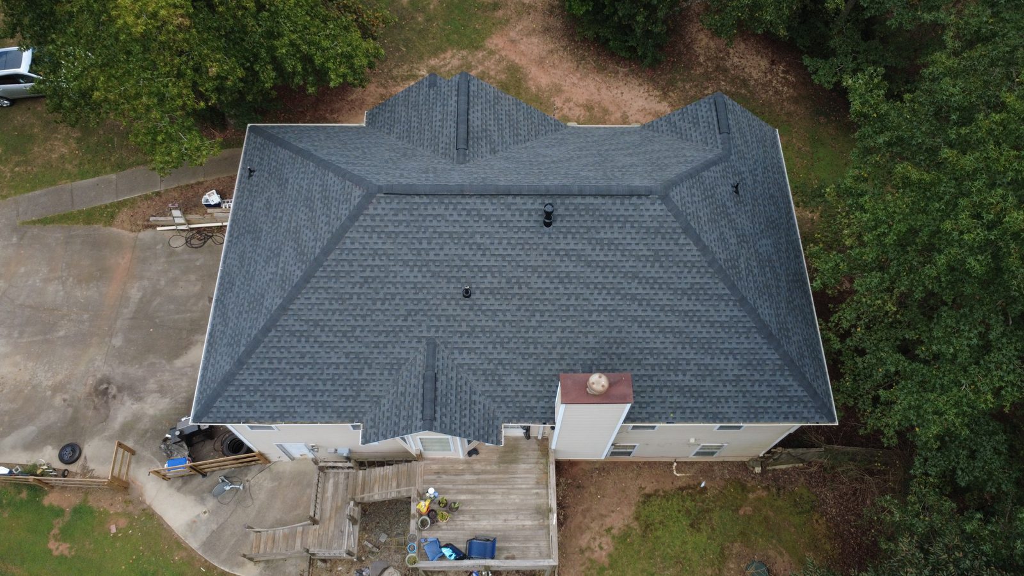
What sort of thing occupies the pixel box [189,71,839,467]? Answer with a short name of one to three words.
house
